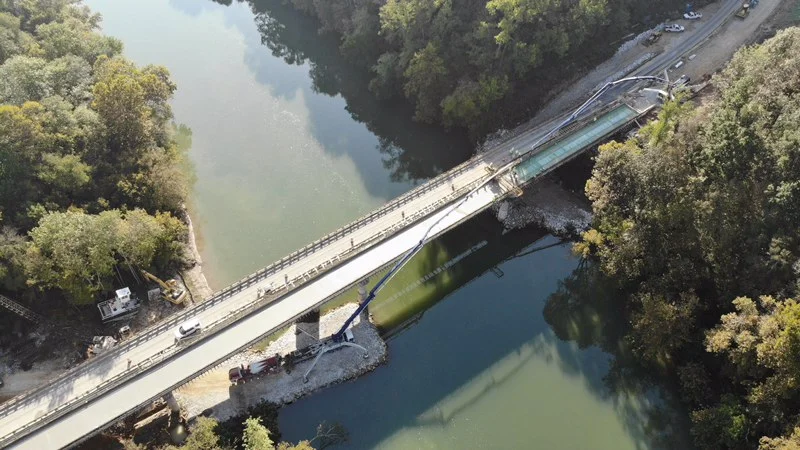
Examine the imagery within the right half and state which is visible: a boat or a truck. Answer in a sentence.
It is a truck that can be seen within the right half.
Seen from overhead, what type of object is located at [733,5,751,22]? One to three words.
work vehicle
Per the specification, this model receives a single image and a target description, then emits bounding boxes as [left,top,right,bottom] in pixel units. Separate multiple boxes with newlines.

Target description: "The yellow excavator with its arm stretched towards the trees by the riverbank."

[141,273,191,306]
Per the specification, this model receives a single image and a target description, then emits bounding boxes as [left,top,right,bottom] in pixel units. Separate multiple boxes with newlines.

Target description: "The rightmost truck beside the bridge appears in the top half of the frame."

[525,69,695,169]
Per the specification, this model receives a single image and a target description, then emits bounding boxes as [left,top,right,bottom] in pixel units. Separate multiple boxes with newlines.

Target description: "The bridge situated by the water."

[0,128,552,450]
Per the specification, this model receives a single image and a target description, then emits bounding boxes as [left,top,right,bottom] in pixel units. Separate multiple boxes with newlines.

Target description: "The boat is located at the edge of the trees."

[98,287,146,321]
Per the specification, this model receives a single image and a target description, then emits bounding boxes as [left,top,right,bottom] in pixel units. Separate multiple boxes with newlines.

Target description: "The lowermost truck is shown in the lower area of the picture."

[228,349,285,381]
